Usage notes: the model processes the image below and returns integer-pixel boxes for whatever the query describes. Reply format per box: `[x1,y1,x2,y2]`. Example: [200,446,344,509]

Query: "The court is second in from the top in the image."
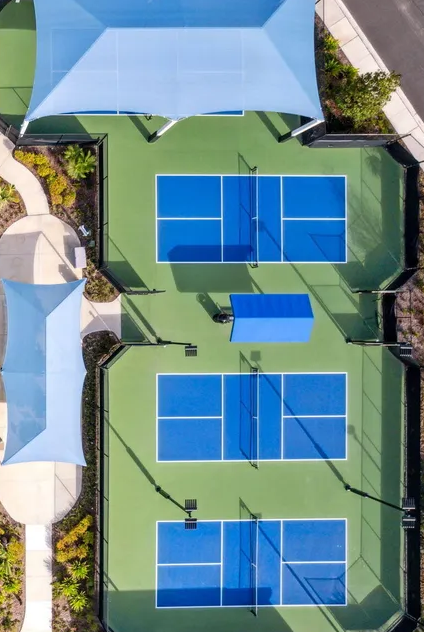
[104,146,403,317]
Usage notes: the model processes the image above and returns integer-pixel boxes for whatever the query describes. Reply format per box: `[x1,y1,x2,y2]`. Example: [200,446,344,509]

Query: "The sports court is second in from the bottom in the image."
[106,317,404,489]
